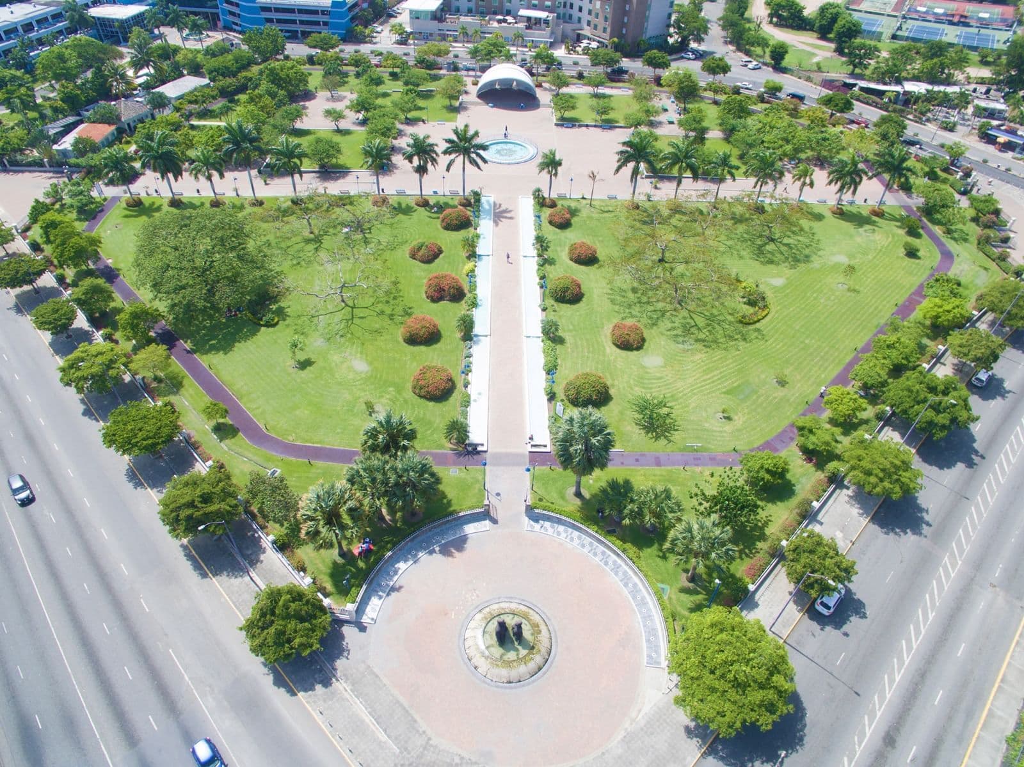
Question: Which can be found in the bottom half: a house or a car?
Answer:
car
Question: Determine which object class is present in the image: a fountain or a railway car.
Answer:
fountain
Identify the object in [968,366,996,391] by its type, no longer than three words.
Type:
car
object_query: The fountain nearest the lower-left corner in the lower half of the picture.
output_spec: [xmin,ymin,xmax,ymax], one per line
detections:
[457,593,558,689]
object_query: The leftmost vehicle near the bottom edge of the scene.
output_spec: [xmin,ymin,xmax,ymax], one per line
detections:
[187,730,230,767]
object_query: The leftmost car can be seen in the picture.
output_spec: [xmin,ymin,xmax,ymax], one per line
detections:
[2,467,37,508]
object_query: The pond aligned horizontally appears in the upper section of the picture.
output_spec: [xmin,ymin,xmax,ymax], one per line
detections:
[475,135,542,165]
